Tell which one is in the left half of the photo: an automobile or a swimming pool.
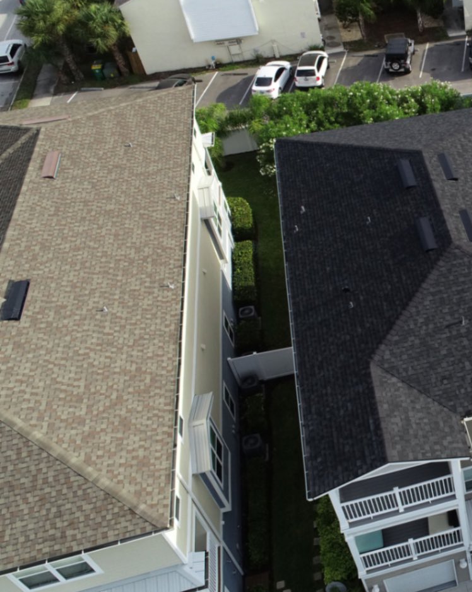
automobile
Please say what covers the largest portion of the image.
buildings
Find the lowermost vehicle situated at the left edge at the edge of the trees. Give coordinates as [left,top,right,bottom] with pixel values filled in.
[0,43,29,80]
